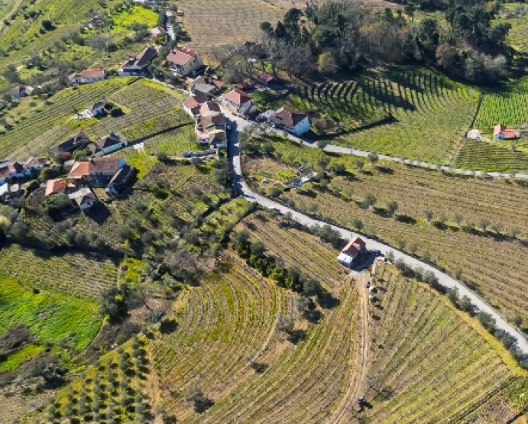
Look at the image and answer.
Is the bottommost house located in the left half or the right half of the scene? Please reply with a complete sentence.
The bottommost house appears in the right half of the scene.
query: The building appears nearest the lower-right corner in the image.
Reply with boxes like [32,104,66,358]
[333,235,372,269]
